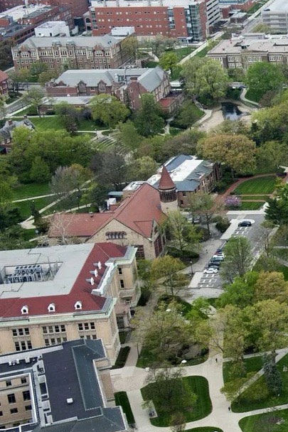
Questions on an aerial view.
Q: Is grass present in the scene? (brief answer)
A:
Yes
